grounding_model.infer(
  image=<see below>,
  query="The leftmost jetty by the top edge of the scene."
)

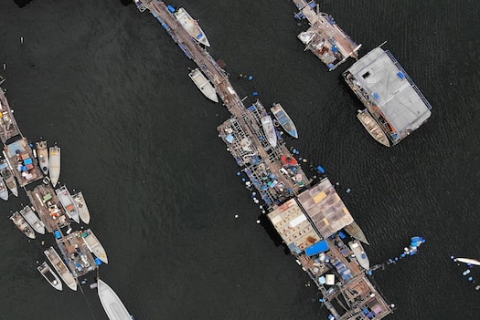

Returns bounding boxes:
[141,0,250,122]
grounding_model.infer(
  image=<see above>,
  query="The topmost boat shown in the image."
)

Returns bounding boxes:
[176,7,212,46]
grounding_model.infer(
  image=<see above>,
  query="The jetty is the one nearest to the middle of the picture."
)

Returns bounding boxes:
[235,108,301,198]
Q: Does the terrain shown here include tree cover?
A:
No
